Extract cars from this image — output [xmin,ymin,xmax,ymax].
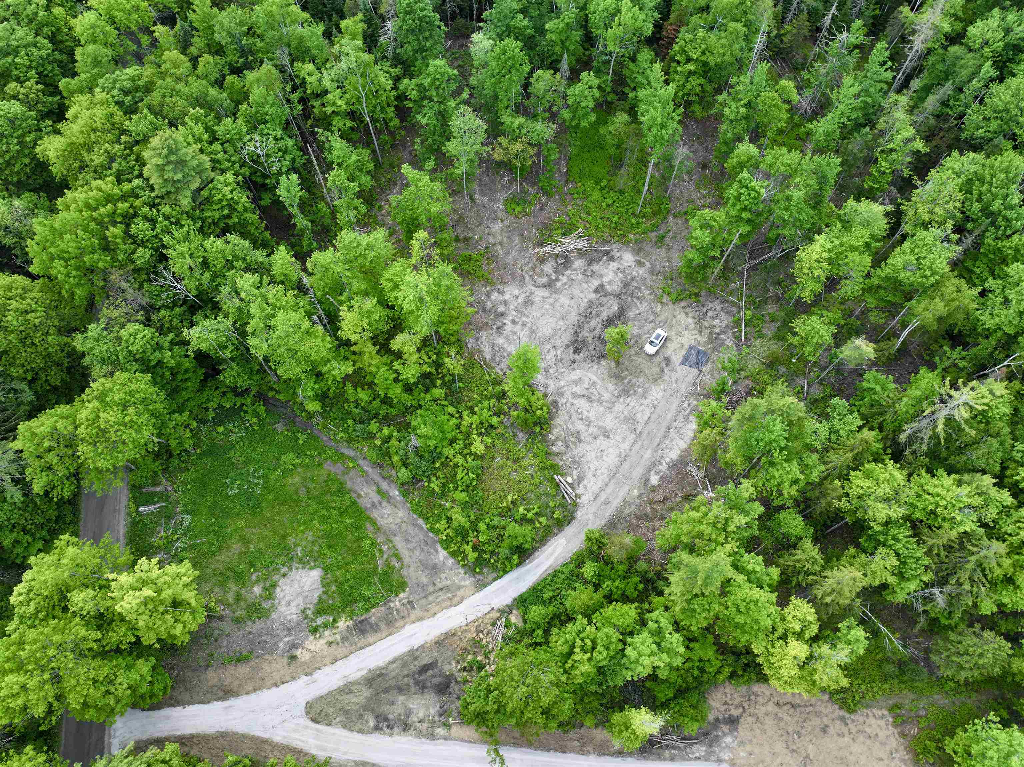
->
[644,326,667,357]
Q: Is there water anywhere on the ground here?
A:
No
